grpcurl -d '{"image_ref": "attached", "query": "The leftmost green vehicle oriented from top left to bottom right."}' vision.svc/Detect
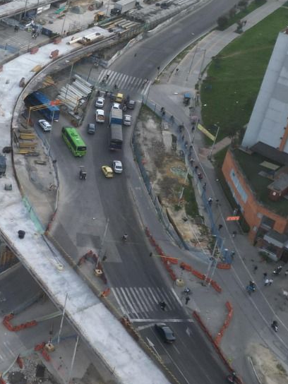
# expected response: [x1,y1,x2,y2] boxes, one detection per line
[58,124,89,158]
